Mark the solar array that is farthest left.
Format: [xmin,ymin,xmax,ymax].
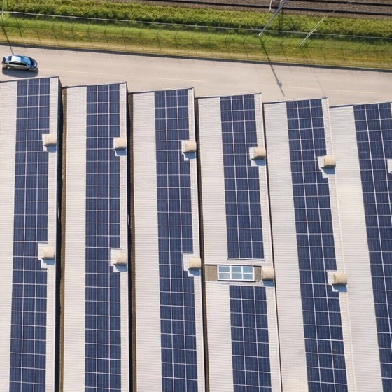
[8,80,50,392]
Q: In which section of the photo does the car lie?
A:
top left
